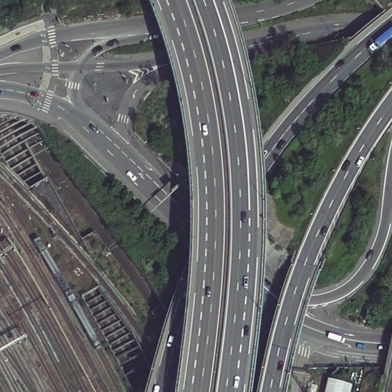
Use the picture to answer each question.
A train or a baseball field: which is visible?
train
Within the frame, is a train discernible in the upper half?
No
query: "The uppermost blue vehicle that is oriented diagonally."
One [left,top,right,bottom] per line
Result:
[371,25,392,48]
